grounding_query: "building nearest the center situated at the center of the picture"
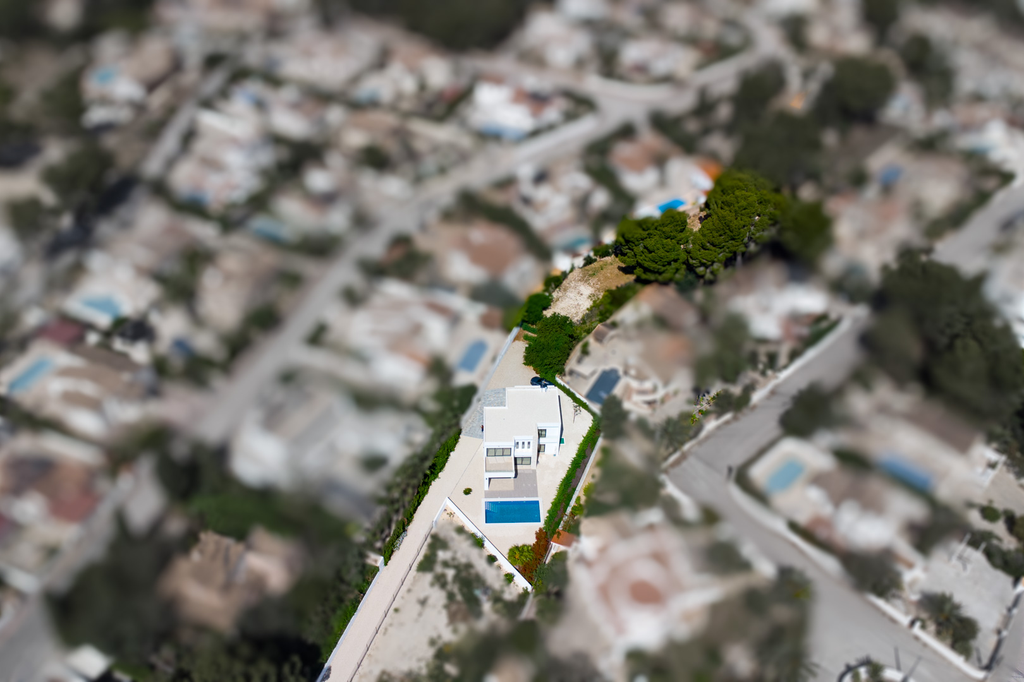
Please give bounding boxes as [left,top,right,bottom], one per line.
[471,307,512,341]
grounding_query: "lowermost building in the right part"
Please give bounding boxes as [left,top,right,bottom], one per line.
[612,615,677,656]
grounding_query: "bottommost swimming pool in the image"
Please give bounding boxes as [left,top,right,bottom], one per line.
[482,498,543,525]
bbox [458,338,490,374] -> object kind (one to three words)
swimming pool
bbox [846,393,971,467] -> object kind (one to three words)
house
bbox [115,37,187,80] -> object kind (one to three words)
house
